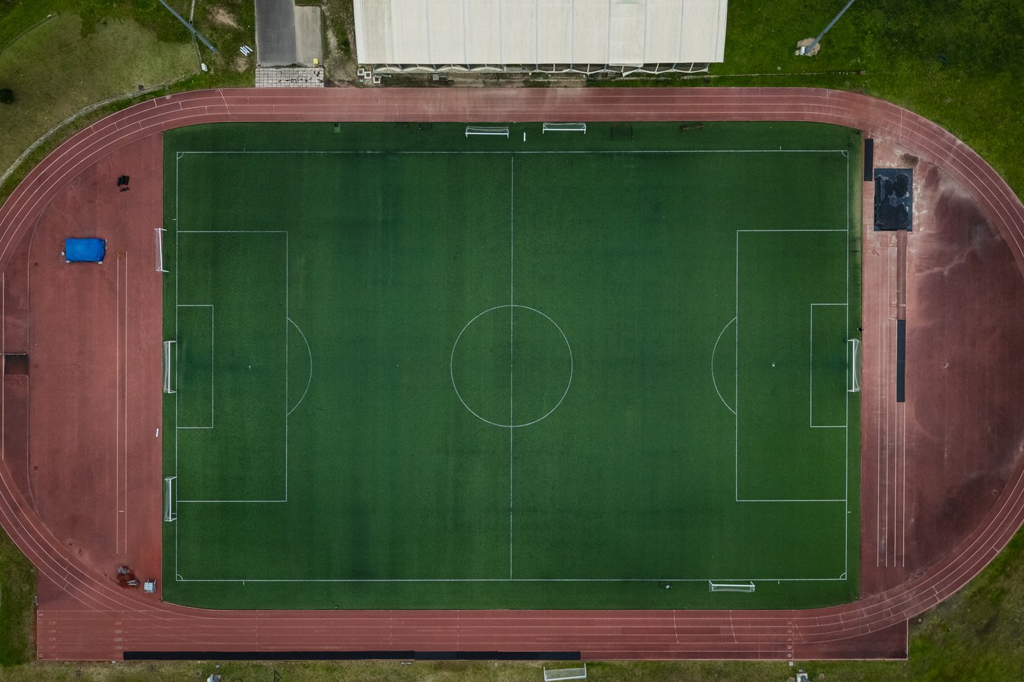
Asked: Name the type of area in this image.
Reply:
sports ground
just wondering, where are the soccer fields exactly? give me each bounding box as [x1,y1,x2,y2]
[162,122,862,610]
